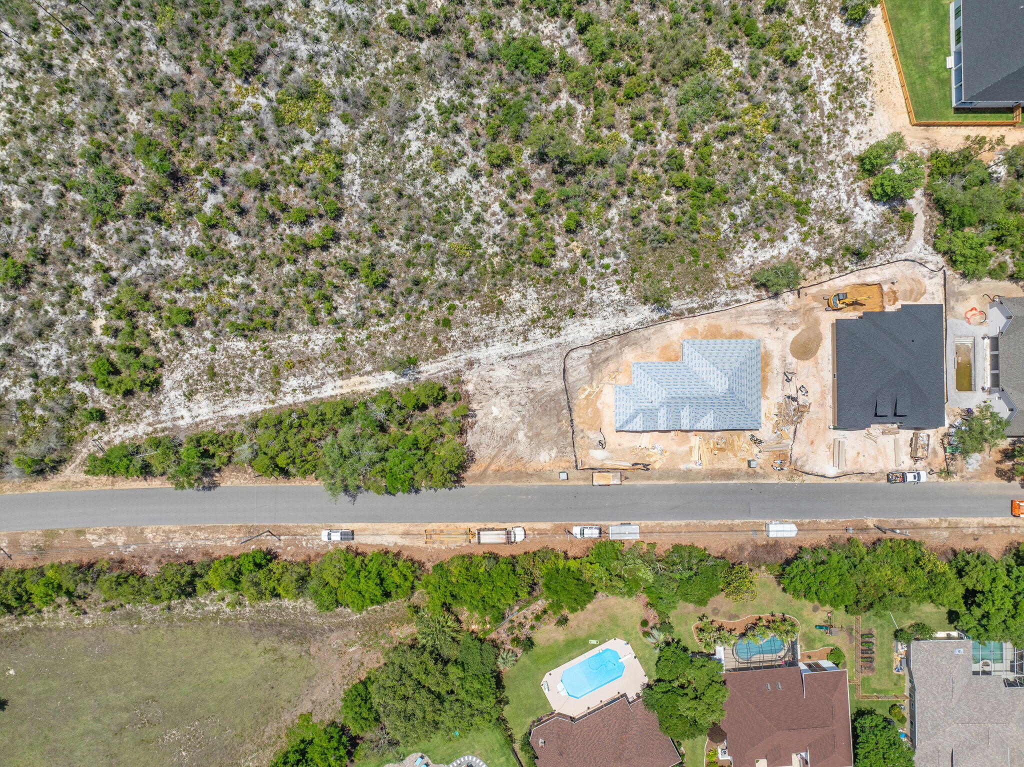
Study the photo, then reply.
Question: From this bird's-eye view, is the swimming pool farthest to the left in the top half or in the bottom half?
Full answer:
You can find the swimming pool farthest to the left in the bottom half.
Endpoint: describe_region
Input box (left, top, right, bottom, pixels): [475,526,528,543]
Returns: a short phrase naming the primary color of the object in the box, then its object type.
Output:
white vehicle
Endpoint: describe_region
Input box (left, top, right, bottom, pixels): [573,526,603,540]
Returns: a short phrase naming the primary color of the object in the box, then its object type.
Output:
white vehicle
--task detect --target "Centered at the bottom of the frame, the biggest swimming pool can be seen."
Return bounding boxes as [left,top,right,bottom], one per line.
[541,638,648,719]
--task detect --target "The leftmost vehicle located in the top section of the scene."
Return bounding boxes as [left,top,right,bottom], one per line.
[824,292,876,311]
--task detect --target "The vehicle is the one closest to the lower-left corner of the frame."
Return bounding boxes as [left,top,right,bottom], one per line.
[321,530,353,544]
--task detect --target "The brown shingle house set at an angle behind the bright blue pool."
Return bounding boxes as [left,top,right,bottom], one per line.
[530,687,681,767]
